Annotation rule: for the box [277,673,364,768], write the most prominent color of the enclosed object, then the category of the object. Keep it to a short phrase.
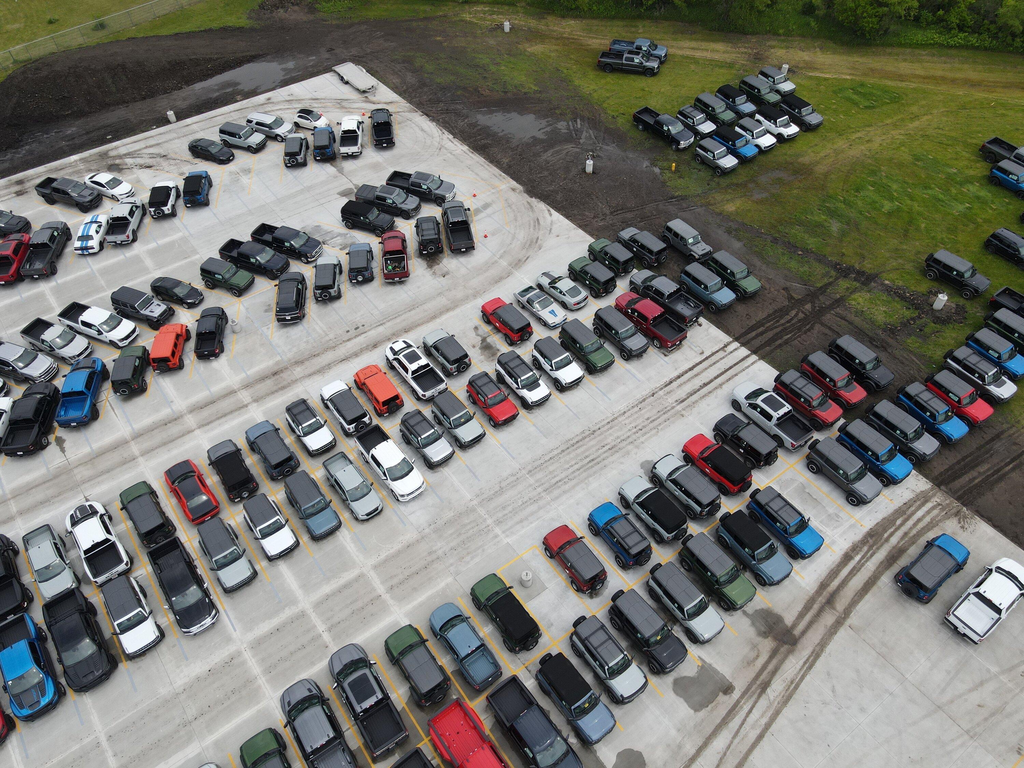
gray truck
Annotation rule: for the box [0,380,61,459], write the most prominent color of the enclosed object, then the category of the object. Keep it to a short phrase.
black truck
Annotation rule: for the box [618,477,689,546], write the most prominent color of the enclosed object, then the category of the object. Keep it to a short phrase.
black car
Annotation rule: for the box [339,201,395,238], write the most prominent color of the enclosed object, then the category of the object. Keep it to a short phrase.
black car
